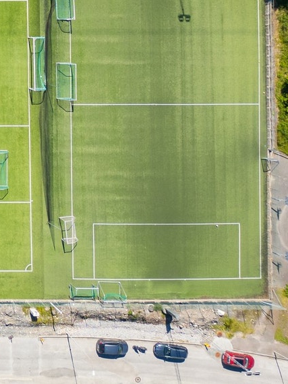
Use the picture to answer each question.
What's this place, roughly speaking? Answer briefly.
sports ground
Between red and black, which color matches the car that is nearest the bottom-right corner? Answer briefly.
red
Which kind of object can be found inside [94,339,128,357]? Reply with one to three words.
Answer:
car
